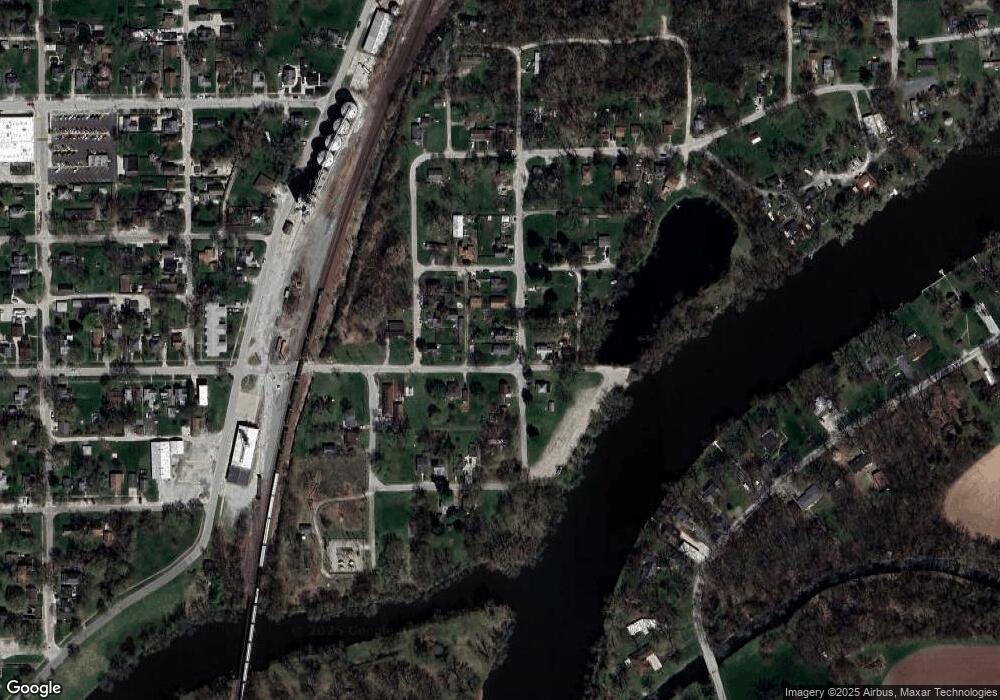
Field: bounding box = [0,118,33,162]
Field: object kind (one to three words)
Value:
building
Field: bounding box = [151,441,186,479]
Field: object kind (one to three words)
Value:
building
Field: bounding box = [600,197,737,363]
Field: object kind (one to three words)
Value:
pond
